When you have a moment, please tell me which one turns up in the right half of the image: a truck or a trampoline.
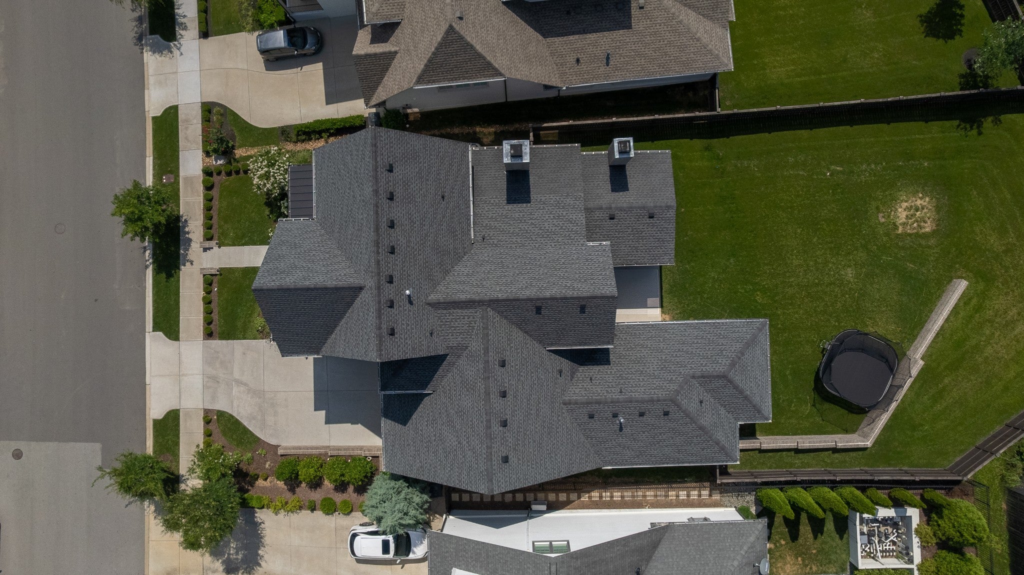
trampoline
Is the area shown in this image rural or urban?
urban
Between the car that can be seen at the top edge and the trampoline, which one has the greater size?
the trampoline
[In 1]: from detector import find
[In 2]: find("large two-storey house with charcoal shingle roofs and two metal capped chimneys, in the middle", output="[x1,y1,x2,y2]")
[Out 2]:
[253,127,774,495]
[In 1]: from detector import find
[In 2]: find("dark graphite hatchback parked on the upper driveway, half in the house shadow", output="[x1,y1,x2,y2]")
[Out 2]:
[255,25,323,63]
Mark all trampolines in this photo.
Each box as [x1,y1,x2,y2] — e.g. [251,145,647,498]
[815,328,912,418]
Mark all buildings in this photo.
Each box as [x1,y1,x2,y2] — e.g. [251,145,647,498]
[426,505,770,575]
[253,127,774,495]
[274,0,736,112]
